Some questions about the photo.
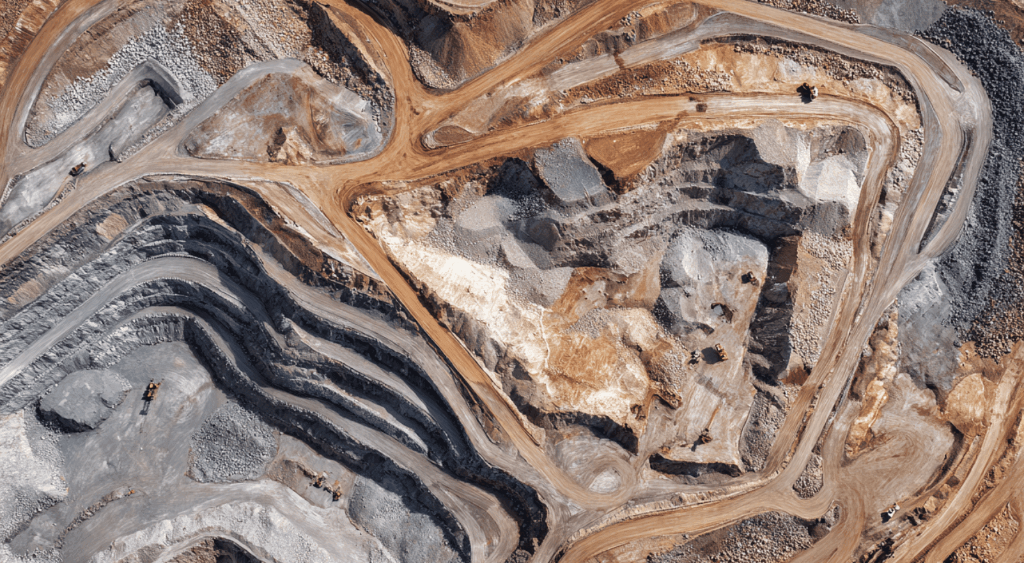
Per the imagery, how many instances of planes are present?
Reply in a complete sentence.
There are no planes in the image.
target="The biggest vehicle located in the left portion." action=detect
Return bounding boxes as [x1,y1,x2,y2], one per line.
[141,381,156,410]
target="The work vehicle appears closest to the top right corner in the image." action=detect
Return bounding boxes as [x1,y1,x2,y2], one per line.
[803,84,820,101]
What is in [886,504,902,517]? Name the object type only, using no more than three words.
vehicle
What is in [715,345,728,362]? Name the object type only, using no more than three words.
vehicle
